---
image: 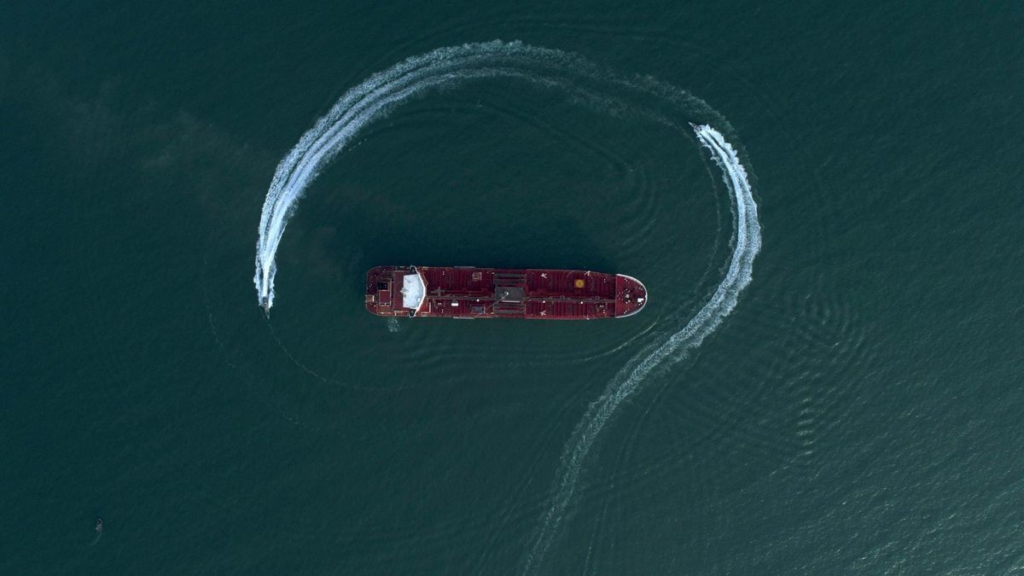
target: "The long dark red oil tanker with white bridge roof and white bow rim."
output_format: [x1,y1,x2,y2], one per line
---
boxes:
[365,266,648,319]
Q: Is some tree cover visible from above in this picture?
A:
No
